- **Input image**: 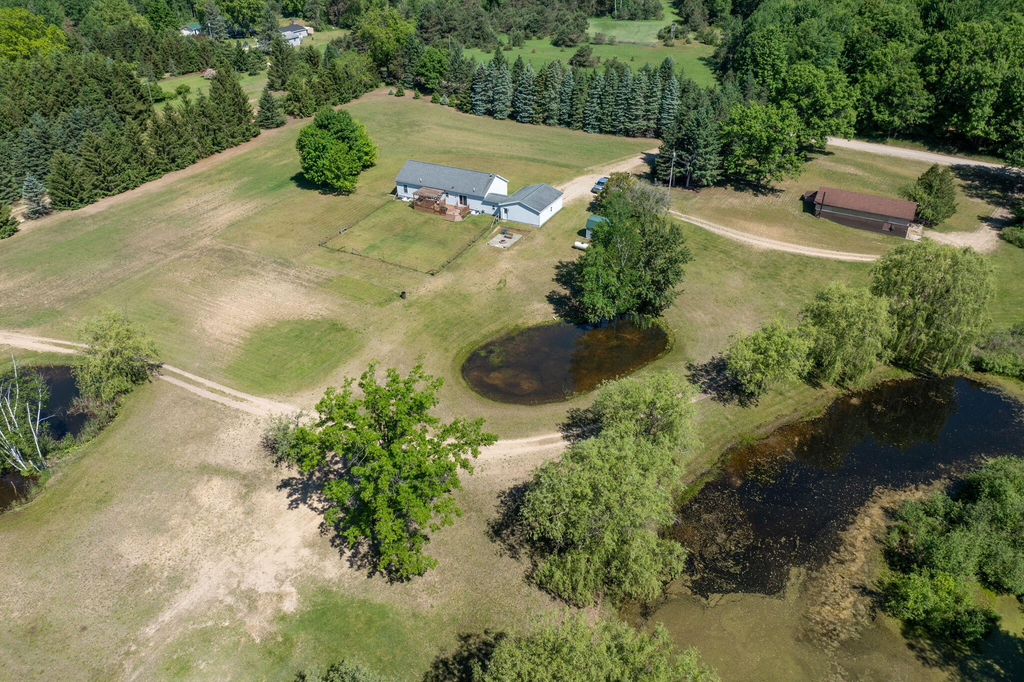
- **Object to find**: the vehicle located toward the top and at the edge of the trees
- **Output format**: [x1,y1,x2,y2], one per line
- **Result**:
[593,176,610,190]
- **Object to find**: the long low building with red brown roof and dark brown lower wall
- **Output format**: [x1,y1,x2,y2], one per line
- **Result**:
[816,186,923,239]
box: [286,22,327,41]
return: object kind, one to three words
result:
house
